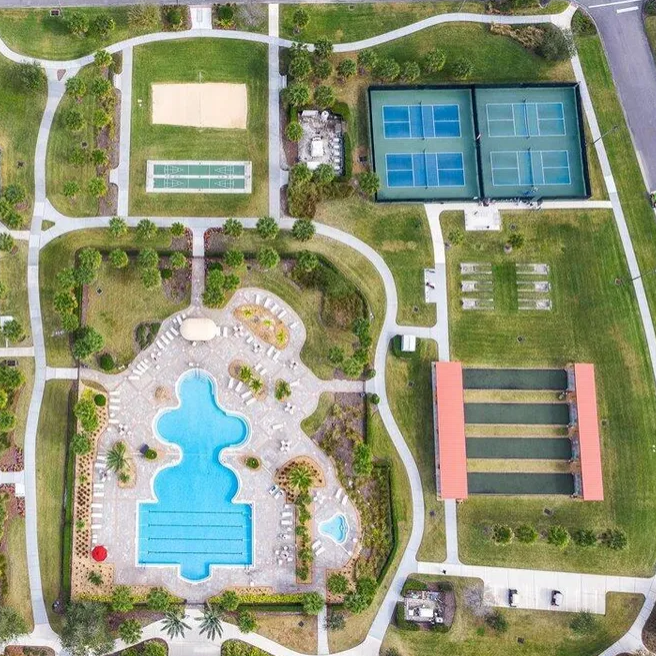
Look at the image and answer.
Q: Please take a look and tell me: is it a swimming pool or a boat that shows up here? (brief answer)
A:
swimming pool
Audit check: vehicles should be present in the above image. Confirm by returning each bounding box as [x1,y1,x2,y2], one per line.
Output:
[508,592,520,610]
[549,592,562,610]
[648,191,656,207]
